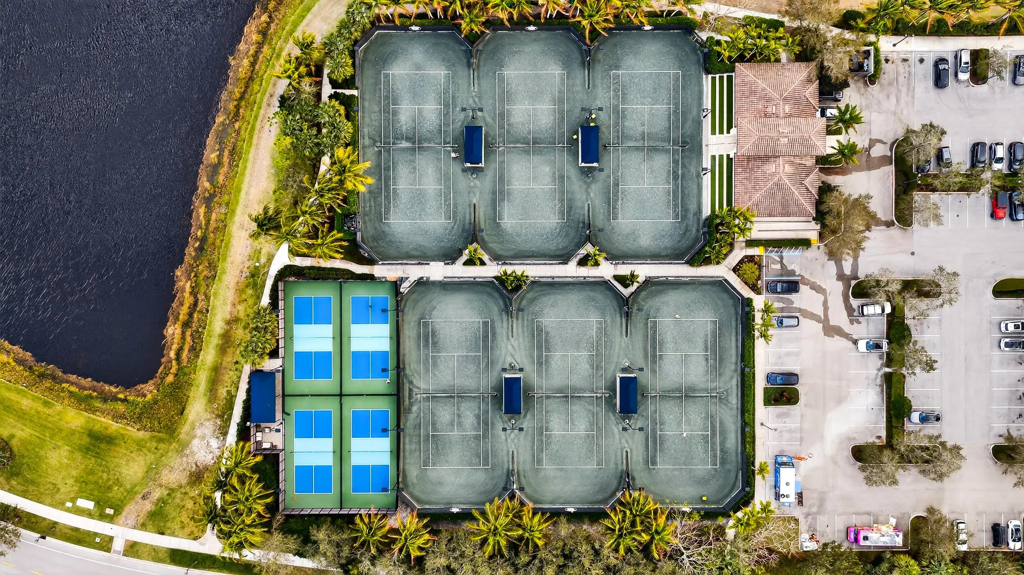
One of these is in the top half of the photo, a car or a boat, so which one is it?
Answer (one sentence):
What appears in the top half of the photo is a car.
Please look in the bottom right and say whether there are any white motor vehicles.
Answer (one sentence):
Yes, a white motor vehicle can be seen in the bottom right.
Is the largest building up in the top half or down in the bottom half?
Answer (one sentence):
The largest building sits in the top half of the picture.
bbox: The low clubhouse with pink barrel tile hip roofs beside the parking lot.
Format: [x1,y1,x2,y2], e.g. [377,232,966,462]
[732,62,828,217]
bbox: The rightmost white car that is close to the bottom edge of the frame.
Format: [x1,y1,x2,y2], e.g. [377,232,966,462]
[1006,518,1023,549]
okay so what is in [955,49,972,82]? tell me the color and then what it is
white car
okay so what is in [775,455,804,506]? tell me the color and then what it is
white truck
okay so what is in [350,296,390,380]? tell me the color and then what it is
blue sports court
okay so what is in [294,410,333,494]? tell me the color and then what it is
blue sports court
